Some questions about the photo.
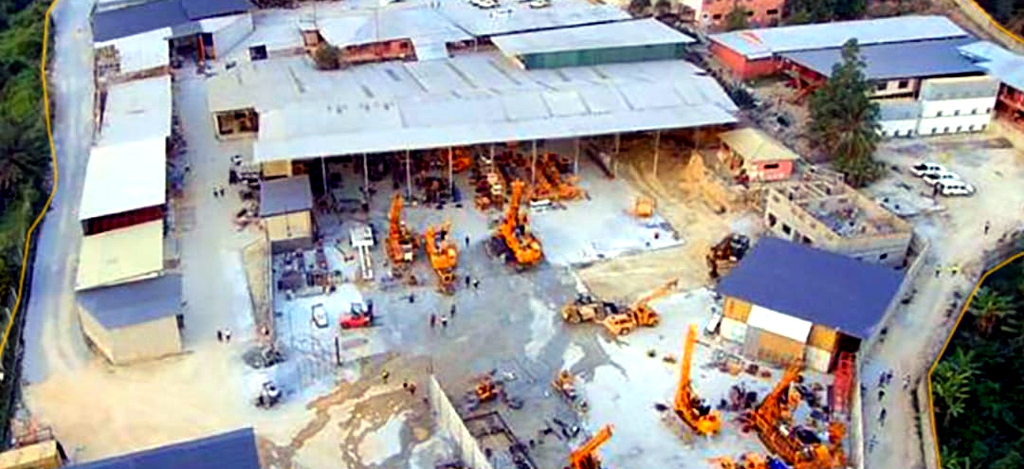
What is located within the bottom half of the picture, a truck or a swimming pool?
truck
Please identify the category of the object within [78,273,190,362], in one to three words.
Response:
building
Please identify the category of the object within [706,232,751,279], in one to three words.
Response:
work vehicle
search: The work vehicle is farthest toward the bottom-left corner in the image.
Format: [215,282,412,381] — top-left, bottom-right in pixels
[244,380,282,418]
